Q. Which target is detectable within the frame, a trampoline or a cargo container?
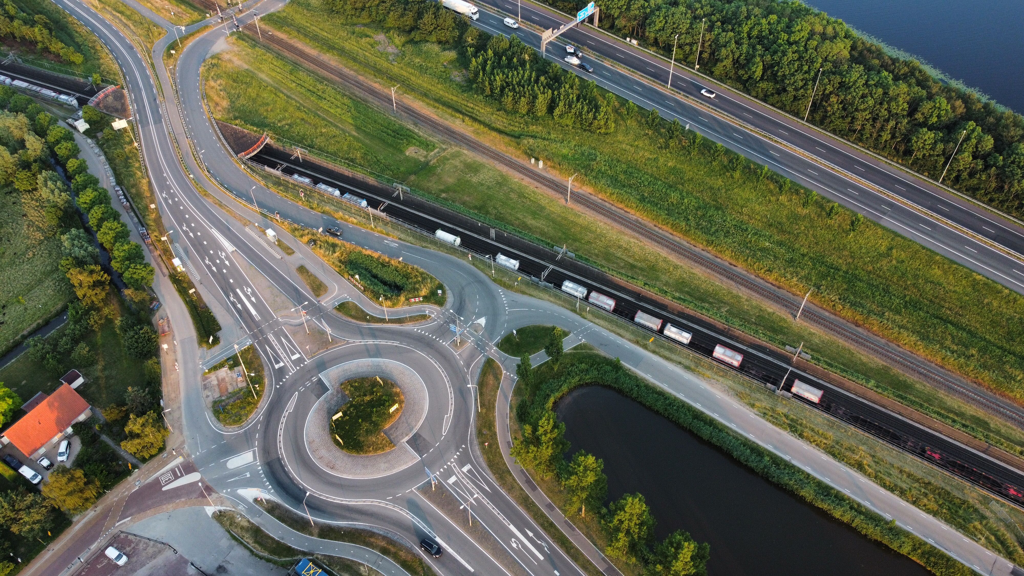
cargo container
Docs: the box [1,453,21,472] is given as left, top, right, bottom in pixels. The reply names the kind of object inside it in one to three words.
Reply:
car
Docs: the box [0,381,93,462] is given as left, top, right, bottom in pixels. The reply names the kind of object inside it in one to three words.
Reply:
house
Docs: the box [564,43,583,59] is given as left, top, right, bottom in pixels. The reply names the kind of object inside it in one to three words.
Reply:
vehicle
